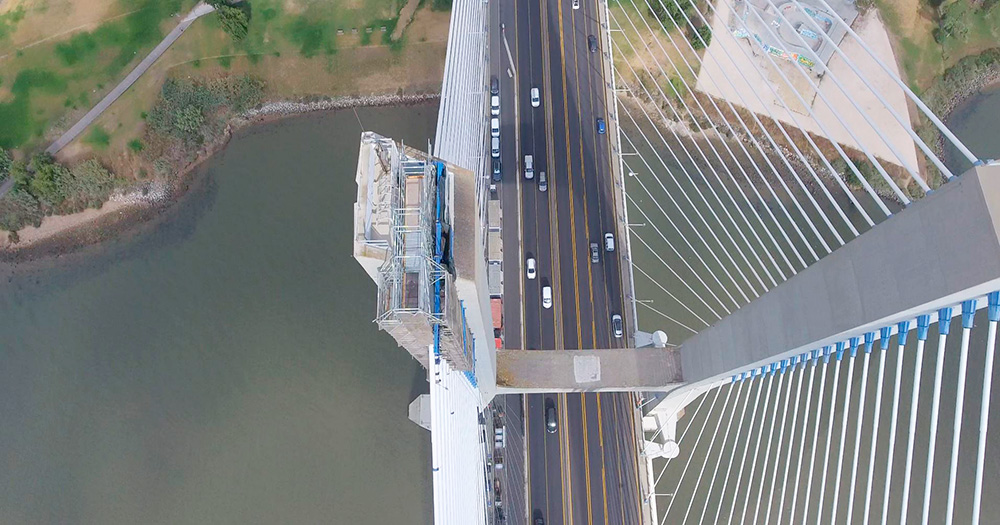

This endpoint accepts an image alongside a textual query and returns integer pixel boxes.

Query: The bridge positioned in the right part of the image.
[349,0,1000,525]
